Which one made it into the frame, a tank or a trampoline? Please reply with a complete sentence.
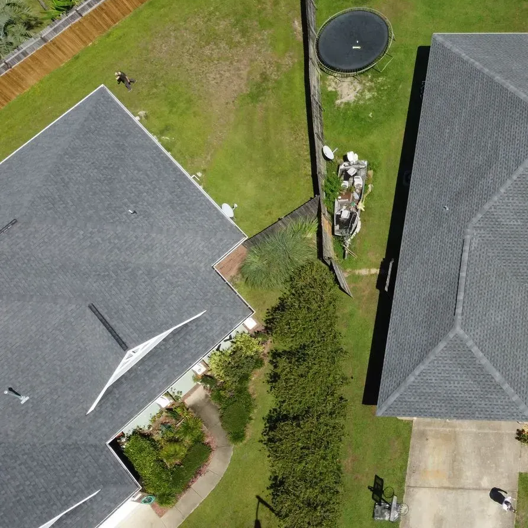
It is a trampoline that can be seen here.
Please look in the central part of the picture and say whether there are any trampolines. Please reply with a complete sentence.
No, in the central part of the picture there is no trampoline.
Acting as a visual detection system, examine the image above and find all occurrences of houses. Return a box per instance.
[376,32,528,424]
[0,85,270,528]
